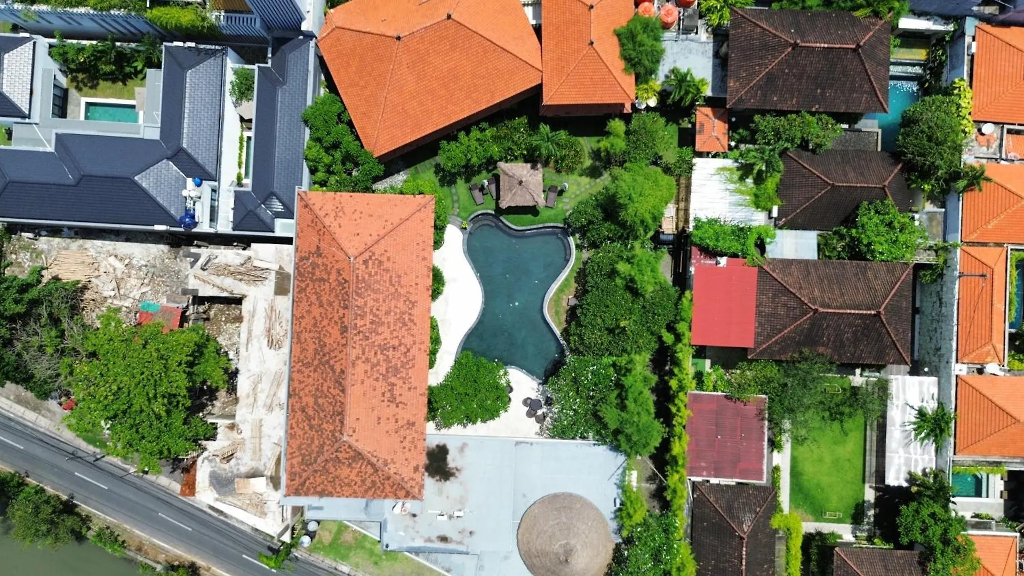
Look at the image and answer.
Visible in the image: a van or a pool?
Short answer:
pool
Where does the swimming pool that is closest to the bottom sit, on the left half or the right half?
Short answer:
right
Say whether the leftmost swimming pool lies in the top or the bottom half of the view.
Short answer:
top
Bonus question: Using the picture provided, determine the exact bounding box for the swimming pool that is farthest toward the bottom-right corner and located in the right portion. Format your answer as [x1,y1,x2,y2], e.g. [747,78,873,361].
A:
[953,474,1003,501]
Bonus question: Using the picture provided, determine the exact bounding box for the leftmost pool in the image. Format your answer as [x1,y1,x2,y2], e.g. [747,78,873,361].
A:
[80,98,143,123]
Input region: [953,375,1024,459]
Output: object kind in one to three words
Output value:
house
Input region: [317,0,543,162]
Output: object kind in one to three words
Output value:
house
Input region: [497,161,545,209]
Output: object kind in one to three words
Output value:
gazebo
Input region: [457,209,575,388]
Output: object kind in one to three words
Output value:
swimming pool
